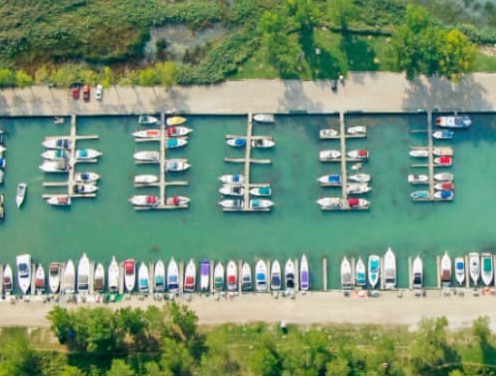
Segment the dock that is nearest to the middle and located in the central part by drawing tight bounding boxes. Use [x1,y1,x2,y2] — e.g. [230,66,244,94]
[223,115,271,212]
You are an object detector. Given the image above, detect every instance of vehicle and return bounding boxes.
[96,85,103,99]
[82,84,90,100]
[72,85,78,99]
